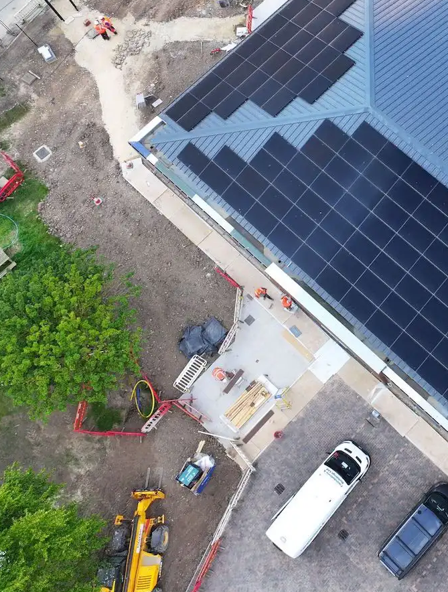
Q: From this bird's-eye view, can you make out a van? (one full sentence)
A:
Yes, there is a van in the image.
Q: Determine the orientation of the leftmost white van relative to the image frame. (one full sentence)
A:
Seen from above, the leftmost white van lies at an angle.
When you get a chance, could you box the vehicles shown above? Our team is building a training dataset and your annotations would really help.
[267,439,375,560]
[88,468,167,592]
[378,480,448,579]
